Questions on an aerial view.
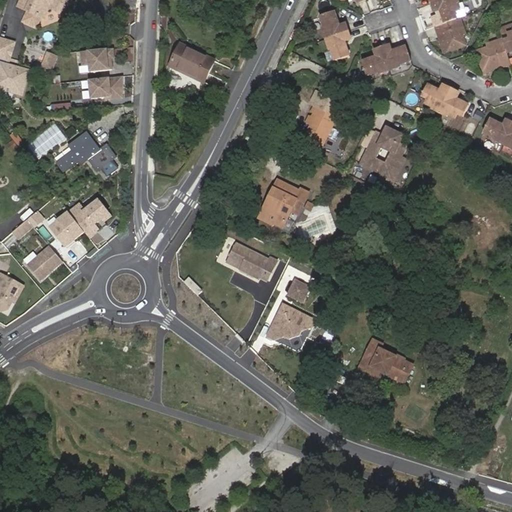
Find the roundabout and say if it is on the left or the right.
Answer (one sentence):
It is on the left.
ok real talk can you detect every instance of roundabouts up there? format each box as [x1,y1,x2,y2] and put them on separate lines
[90,253,160,323]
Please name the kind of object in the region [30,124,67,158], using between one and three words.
greenhouse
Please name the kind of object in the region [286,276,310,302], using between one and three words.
building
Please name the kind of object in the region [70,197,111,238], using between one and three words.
house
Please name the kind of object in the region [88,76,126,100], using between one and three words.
house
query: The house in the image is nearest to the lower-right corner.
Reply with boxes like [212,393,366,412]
[359,337,414,380]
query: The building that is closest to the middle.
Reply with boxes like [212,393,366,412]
[226,241,280,282]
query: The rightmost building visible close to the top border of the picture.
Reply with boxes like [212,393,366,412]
[478,22,512,72]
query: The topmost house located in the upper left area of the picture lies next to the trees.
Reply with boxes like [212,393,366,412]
[15,0,56,29]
